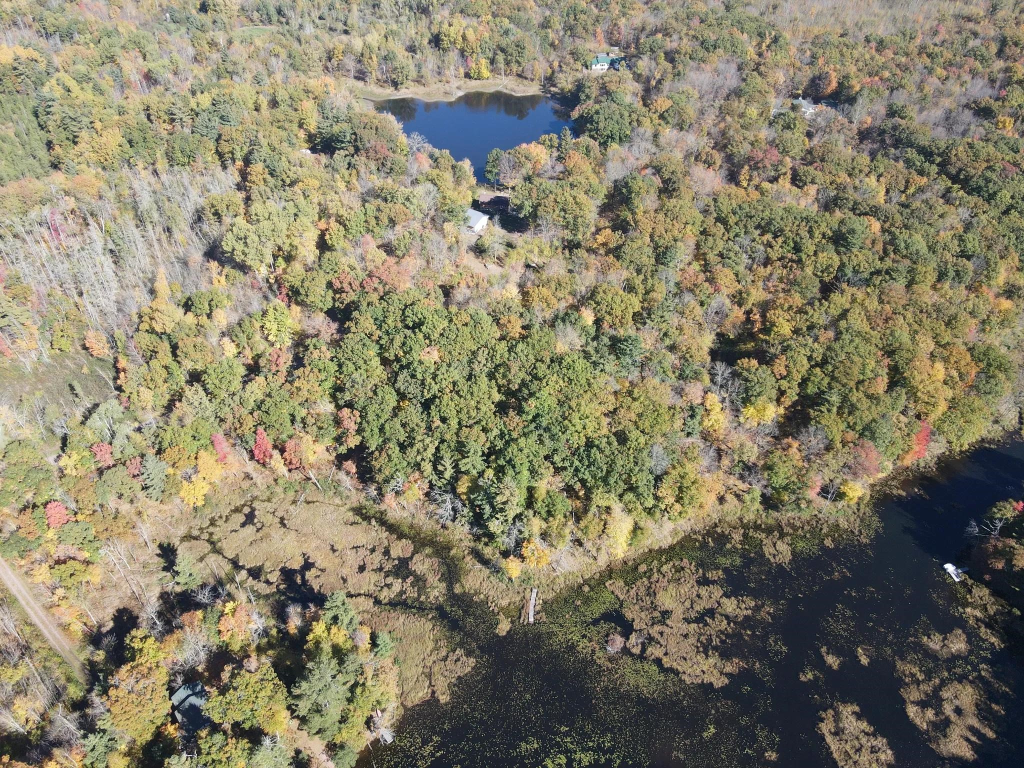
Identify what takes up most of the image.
trees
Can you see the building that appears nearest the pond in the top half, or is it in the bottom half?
top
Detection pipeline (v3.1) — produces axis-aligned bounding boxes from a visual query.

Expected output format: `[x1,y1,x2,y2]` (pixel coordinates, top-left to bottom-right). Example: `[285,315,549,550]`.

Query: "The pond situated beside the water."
[368,91,578,183]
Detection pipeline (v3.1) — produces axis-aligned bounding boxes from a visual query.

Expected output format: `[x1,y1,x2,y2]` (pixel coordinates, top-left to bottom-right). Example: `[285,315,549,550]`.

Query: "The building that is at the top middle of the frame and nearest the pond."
[479,193,512,215]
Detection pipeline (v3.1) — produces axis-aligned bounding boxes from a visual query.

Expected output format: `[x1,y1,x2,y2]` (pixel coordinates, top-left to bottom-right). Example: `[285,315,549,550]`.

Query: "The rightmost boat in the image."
[942,564,961,583]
